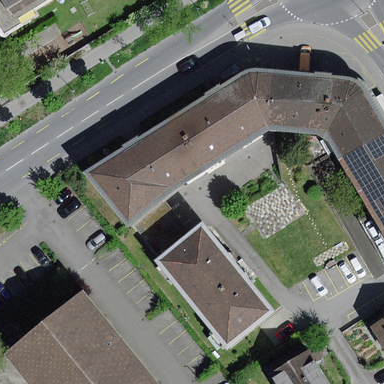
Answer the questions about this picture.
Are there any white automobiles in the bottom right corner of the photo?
Yes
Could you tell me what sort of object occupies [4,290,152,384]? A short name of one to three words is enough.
building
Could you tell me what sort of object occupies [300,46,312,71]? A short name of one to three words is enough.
vehicle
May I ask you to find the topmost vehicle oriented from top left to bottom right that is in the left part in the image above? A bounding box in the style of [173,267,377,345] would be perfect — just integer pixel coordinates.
[32,244,51,267]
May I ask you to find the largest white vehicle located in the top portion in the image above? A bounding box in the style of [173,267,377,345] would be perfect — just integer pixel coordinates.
[249,16,272,34]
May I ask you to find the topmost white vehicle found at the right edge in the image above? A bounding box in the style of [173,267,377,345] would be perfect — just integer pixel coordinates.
[363,219,380,240]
